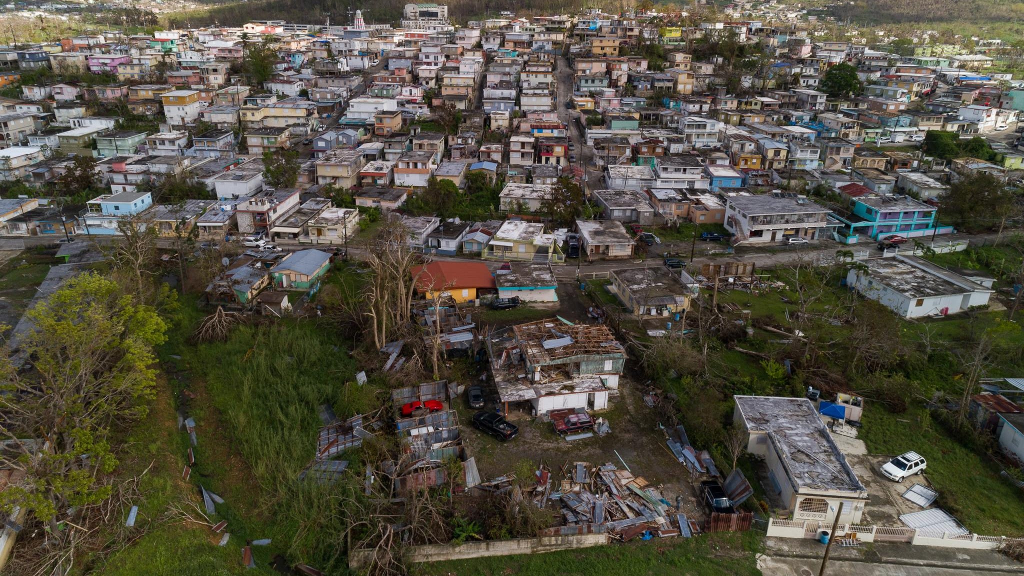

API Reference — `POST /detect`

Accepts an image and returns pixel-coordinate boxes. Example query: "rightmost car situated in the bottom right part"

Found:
[882,452,929,480]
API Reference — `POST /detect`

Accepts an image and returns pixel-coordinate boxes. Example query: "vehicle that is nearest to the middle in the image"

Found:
[491,295,521,309]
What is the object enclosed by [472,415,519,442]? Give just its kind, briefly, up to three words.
truck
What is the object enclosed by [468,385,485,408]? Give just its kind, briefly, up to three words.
car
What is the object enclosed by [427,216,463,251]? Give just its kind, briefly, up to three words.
house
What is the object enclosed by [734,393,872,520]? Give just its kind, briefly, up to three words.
house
